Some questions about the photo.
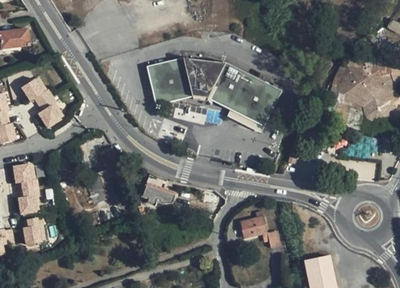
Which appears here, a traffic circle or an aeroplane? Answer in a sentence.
The image shows a traffic circle.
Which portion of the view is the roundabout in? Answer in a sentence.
The roundabout sits in the bottom right section of the image.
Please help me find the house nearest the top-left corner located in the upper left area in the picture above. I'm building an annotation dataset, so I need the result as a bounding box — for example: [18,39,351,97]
[0,27,31,48]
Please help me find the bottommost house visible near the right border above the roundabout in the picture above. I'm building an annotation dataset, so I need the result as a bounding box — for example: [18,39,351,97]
[331,64,394,118]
